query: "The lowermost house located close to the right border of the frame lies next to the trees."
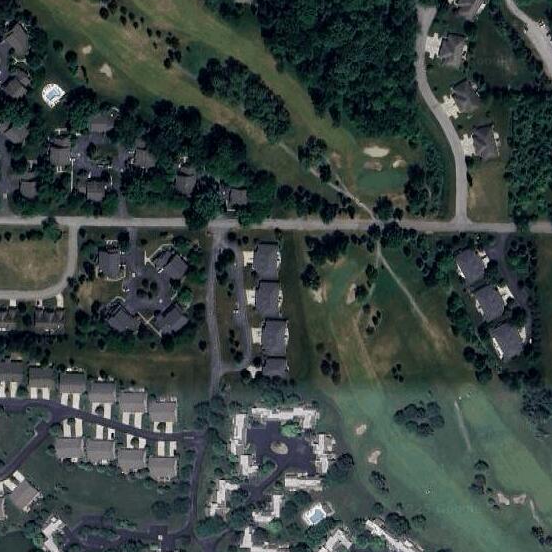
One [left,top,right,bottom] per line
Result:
[490,320,527,363]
